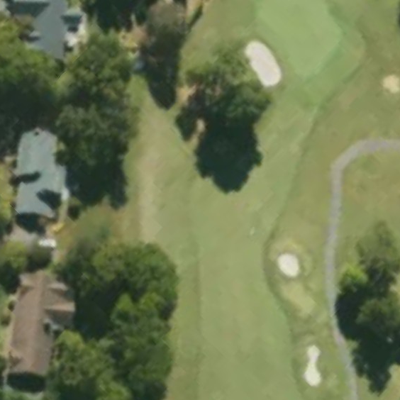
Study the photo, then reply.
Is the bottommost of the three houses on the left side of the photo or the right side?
left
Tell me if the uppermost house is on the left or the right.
left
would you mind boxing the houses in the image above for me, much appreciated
[6,0,81,55]
[10,268,72,376]
[14,129,65,217]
